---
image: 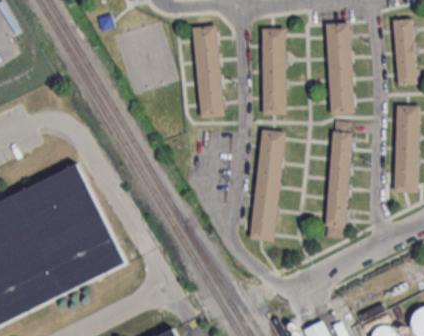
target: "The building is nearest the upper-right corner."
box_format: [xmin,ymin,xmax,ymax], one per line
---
[392,18,420,88]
